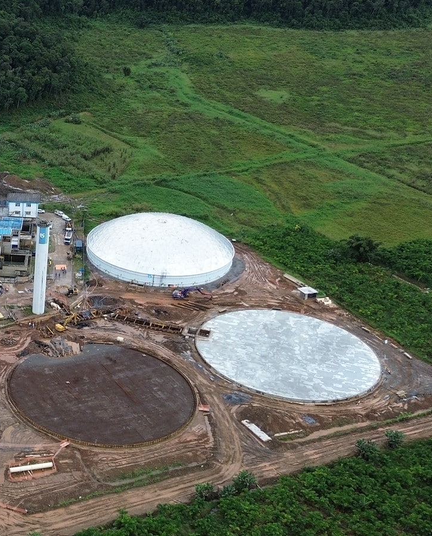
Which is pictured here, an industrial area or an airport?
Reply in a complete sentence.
It's an industrial area.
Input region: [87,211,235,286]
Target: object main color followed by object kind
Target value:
white storage tank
